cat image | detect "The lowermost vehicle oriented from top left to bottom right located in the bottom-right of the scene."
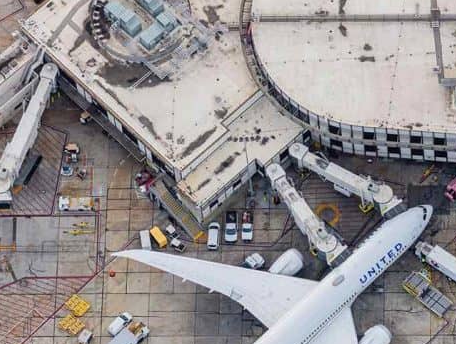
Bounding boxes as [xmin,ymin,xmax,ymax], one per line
[401,267,456,320]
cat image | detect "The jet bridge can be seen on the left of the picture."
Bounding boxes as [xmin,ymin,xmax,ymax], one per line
[0,64,60,217]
